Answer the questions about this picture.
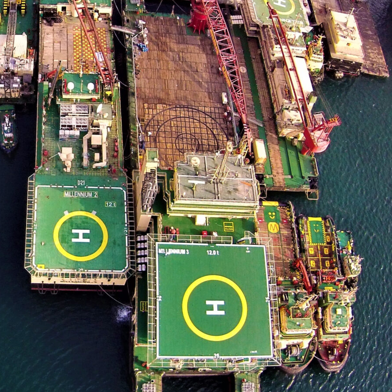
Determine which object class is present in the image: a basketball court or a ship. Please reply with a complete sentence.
Of the two, only a ship appears.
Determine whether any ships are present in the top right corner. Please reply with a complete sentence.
Yes, I can see a ship in the top right corner.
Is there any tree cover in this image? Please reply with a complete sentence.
No, the picture contains no tree cover.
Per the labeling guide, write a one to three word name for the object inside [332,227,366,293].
boat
